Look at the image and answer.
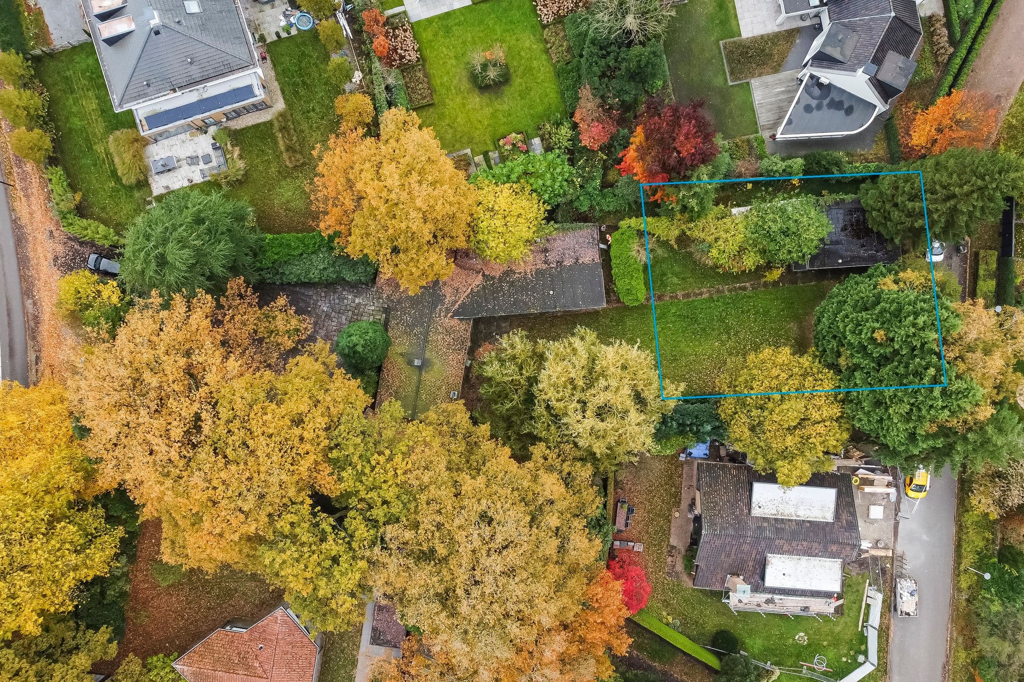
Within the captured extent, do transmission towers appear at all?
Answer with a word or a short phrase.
No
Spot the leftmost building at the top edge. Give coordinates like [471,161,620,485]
[80,0,273,142]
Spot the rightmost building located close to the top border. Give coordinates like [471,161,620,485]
[771,0,924,144]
